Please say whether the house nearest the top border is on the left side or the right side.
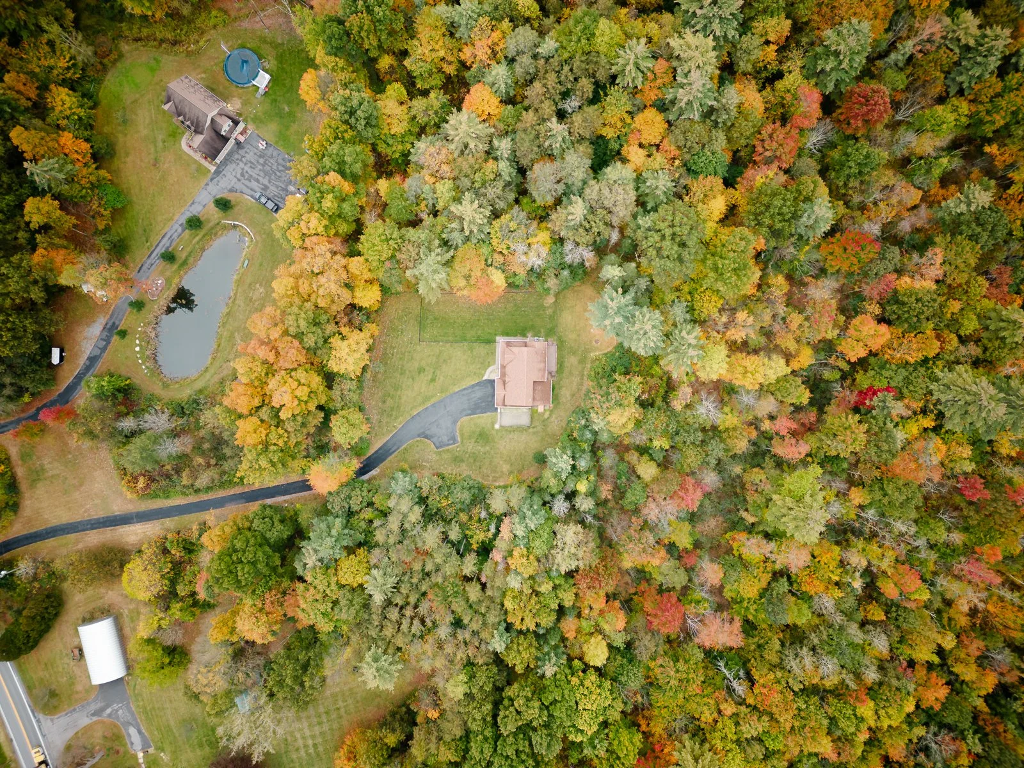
left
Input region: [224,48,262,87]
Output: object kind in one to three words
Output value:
swimming pool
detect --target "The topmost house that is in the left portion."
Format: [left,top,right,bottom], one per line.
[162,74,249,164]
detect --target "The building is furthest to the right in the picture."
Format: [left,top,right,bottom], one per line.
[495,339,553,407]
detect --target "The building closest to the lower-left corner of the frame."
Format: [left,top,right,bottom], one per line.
[75,616,128,687]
